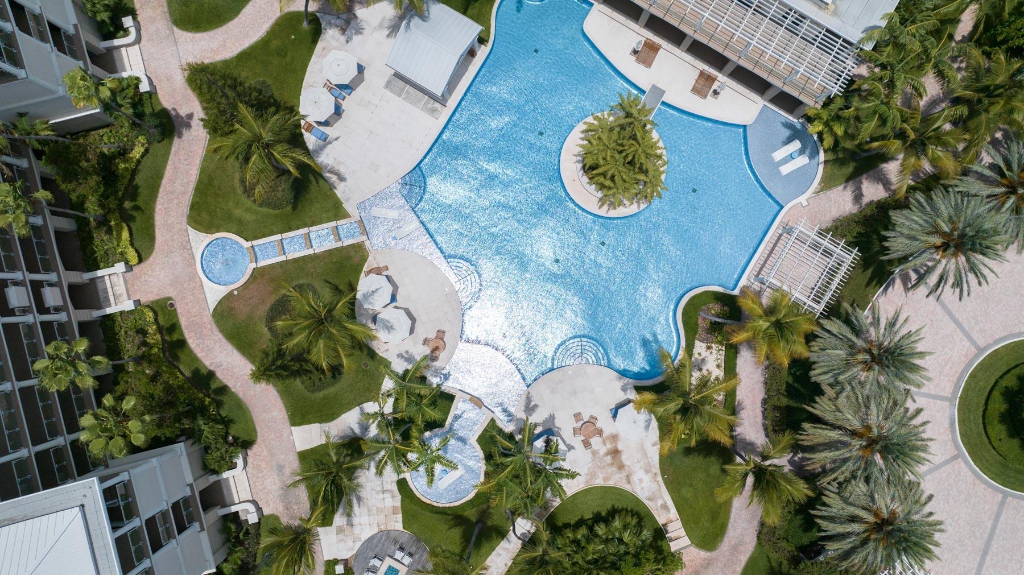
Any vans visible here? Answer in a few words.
No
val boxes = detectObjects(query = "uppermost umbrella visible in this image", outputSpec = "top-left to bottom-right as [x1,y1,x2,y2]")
[629,36,644,56]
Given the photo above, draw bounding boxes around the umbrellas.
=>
[301,87,337,123]
[629,36,644,56]
[615,402,649,438]
[378,307,412,341]
[710,80,729,98]
[360,274,395,309]
[325,53,360,88]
